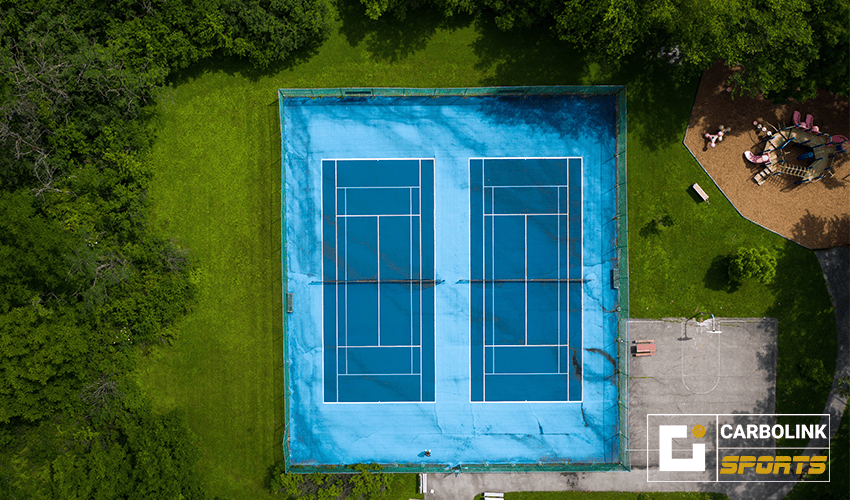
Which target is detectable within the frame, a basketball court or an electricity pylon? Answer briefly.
basketball court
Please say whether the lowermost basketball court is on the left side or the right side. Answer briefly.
right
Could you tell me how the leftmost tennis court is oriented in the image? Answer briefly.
from top to bottom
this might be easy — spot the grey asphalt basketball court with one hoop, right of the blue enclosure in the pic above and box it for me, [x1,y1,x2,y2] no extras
[621,318,776,473]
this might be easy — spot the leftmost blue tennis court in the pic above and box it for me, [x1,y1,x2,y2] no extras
[321,159,436,404]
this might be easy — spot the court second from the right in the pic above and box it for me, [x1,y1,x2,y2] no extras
[469,157,584,403]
